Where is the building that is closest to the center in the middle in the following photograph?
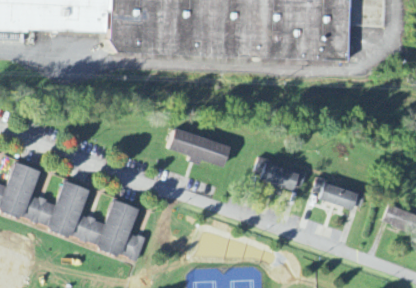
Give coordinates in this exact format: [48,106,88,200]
[166,129,231,168]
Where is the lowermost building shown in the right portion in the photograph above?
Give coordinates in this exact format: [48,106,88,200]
[381,206,416,232]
